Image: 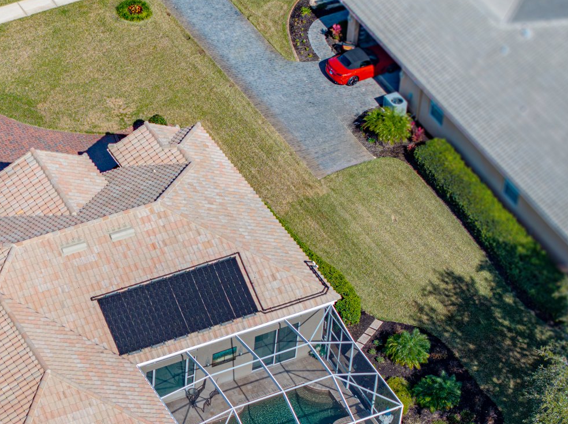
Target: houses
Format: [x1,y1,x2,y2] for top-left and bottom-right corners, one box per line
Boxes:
[341,0,568,289]
[0,115,341,424]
